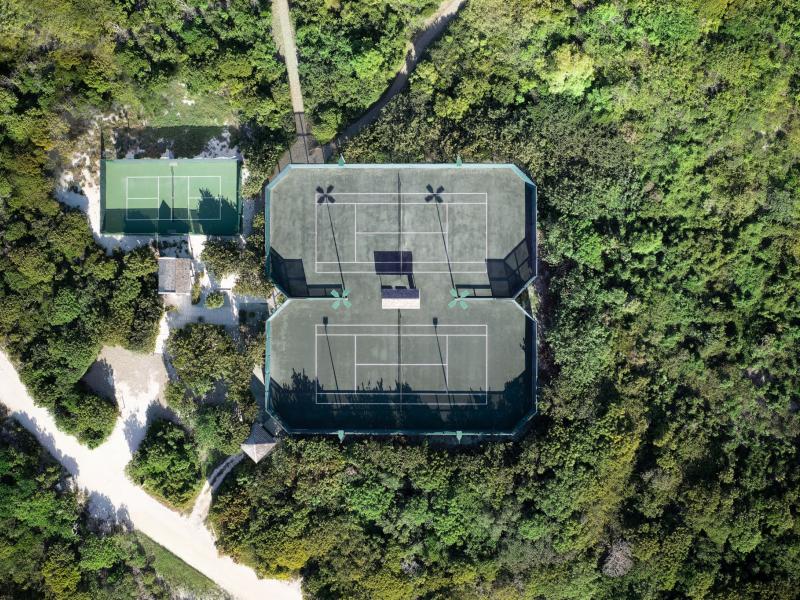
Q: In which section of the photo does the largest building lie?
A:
left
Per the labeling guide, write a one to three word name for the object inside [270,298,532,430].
tennis court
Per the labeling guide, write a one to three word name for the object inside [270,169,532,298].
tennis court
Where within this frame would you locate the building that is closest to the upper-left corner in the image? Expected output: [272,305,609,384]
[159,257,196,306]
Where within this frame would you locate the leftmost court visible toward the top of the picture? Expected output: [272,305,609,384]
[107,162,237,237]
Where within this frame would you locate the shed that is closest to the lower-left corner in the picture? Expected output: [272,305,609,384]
[241,424,278,462]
